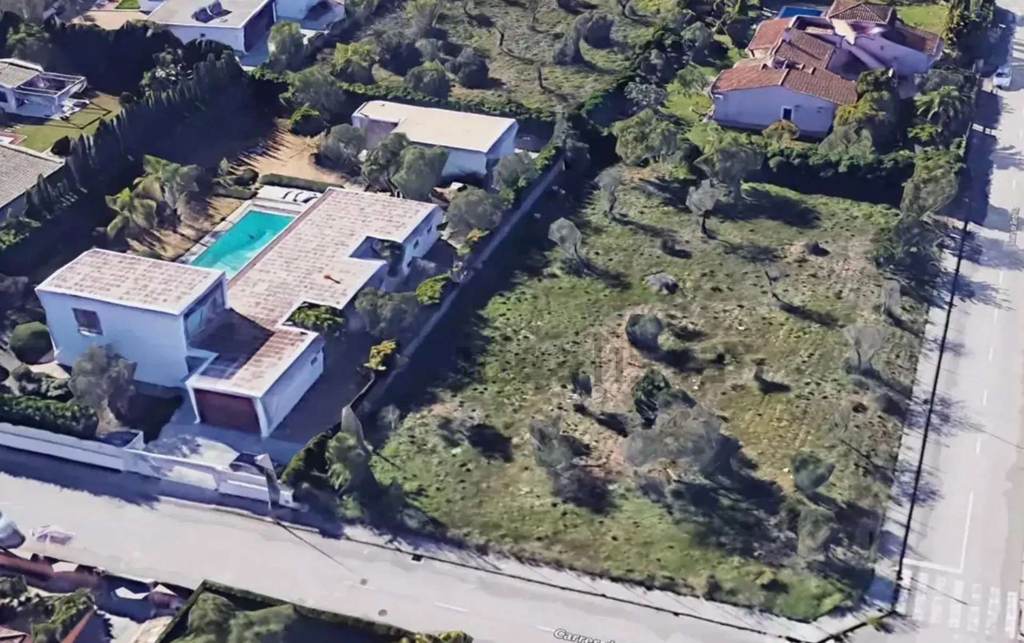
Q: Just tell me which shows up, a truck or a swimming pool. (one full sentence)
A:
The one in the frame is a swimming pool.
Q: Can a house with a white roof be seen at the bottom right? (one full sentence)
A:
No, no house with a white roof appears at the bottom right.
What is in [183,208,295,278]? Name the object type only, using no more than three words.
swimming pool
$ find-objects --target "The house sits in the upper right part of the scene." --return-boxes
[714,1,943,133]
